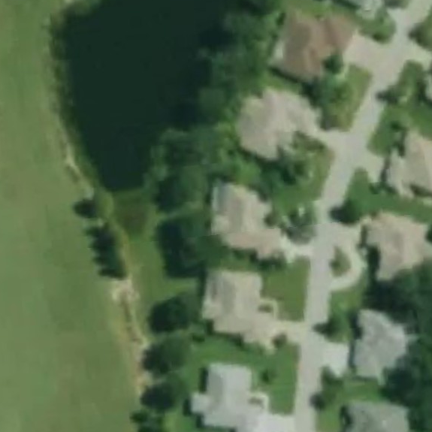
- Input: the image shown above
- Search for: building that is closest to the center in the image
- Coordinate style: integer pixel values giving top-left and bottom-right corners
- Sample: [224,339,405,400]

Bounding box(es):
[211,182,285,256]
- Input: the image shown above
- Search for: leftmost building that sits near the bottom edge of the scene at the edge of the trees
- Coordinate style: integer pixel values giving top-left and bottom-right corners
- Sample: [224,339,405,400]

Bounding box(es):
[191,363,263,432]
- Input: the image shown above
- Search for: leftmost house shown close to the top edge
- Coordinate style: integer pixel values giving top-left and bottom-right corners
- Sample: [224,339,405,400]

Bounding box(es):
[271,13,356,77]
